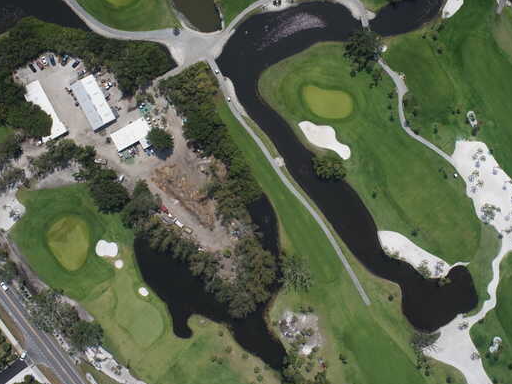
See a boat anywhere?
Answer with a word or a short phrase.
No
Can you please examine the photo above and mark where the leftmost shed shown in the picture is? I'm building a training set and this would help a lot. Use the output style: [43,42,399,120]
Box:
[24,80,69,139]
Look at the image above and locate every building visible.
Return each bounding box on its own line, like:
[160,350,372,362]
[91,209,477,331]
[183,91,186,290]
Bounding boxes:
[110,117,150,151]
[24,80,69,139]
[70,74,118,130]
